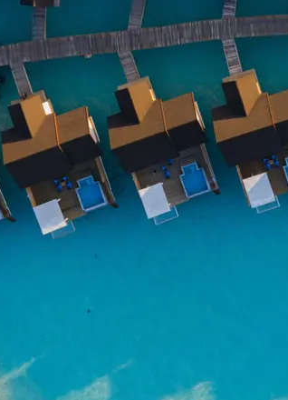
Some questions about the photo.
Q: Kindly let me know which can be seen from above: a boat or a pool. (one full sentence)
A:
I can see a pool in this picture.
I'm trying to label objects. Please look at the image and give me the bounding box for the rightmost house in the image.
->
[213,70,288,218]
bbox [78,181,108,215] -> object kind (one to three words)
swimming pool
